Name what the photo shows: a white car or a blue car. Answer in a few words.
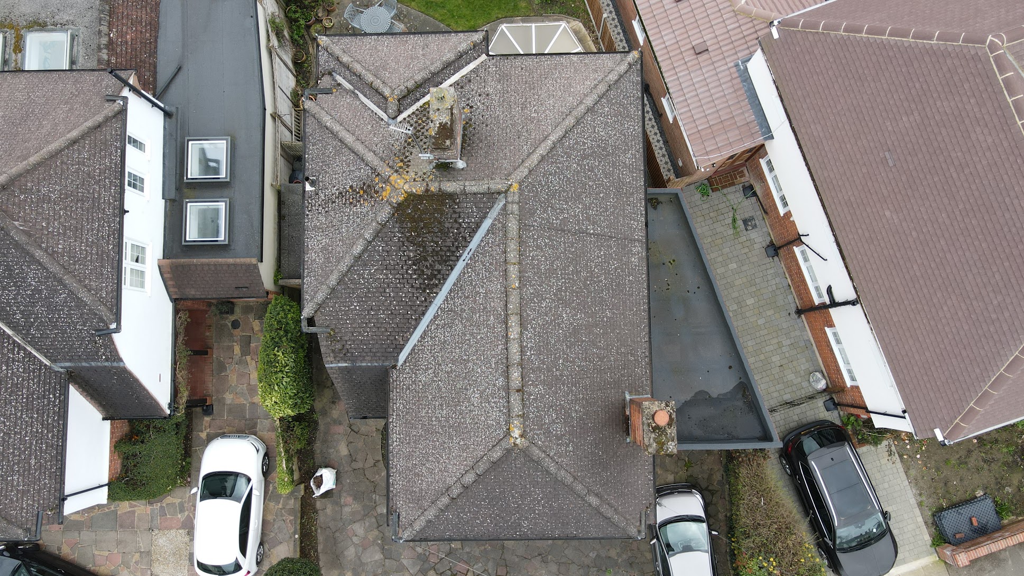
white car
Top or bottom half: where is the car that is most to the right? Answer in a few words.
bottom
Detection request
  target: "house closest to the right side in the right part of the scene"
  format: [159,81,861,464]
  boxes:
[736,0,1024,448]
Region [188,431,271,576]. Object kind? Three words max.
car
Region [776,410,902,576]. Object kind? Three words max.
car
